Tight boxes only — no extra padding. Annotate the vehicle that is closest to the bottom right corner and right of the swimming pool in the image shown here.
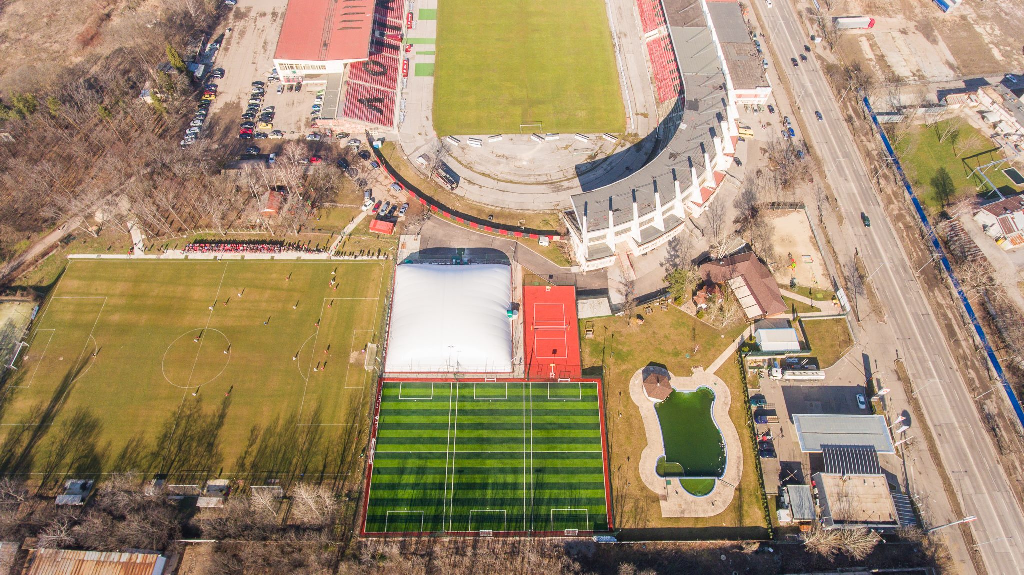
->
[854,393,868,409]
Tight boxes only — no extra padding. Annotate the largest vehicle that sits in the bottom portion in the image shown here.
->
[772,366,828,380]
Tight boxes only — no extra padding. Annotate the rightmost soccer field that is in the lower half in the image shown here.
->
[360,378,616,538]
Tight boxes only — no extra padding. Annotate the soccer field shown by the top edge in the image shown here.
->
[433,0,625,135]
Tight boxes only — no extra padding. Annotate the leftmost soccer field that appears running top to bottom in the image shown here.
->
[0,301,37,383]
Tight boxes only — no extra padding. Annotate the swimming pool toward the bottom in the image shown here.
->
[629,366,743,519]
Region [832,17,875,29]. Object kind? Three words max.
vehicle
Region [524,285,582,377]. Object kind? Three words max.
sports court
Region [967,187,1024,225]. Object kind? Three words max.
building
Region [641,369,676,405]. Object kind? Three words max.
building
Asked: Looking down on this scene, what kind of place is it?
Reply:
sports ground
